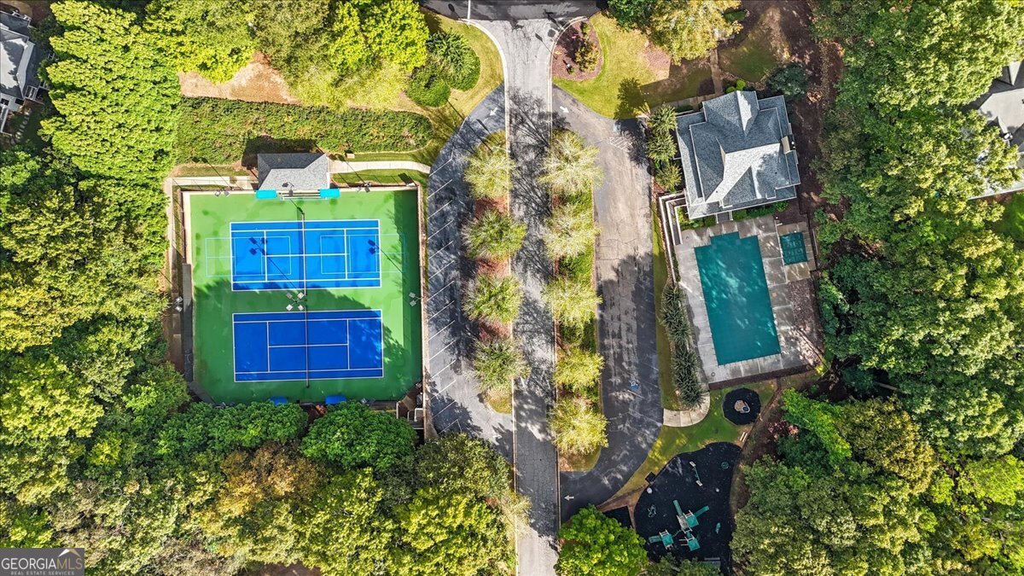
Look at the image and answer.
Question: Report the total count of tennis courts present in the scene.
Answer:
2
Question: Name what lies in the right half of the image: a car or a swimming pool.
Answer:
swimming pool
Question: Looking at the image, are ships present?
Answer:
No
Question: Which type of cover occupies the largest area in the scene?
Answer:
trees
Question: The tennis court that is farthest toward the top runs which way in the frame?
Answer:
from left to right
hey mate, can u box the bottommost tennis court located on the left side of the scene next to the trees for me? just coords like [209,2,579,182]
[233,305,383,387]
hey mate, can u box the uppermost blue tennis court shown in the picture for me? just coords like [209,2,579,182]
[206,214,406,296]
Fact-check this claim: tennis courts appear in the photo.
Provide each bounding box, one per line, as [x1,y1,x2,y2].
[206,214,406,296]
[233,305,383,387]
